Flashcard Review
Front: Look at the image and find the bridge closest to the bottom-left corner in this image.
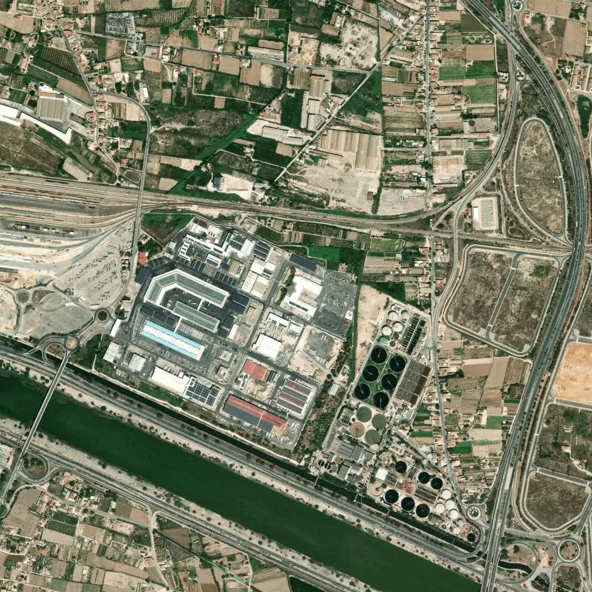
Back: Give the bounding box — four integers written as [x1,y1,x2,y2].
[11,337,74,484]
